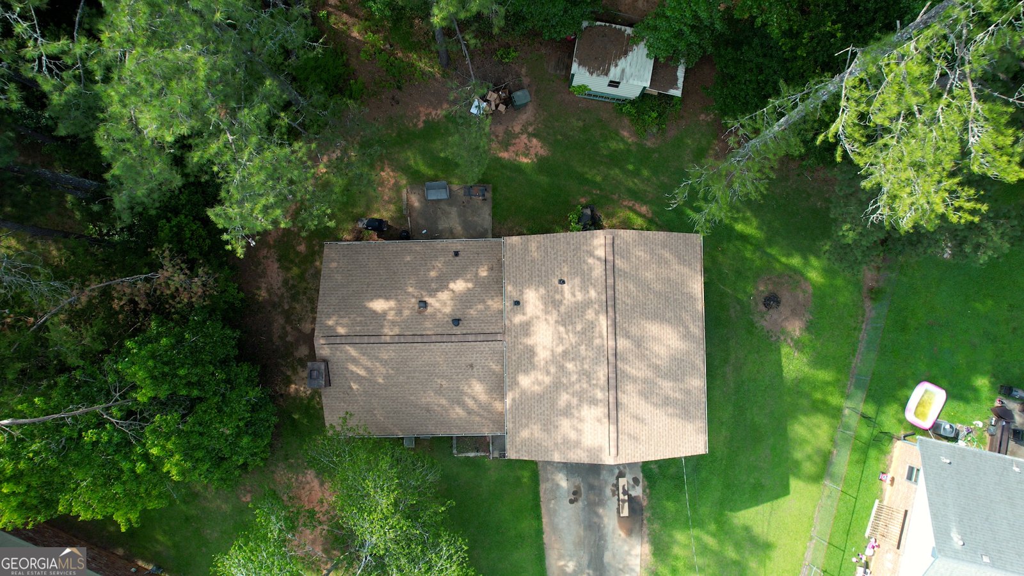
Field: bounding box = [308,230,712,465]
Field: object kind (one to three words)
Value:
house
